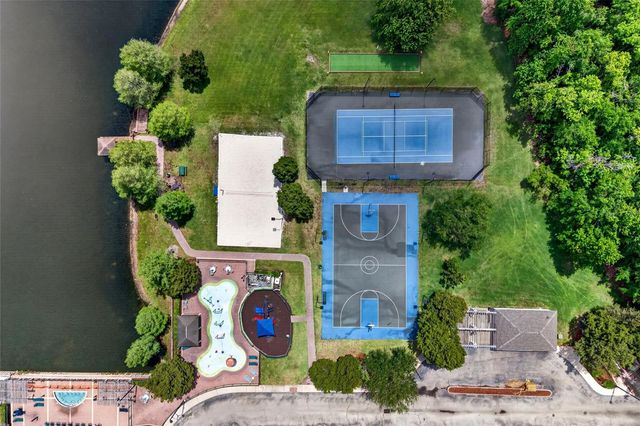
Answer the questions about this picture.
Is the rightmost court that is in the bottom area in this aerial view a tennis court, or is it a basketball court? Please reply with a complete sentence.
I'd say the rightmost court that is in the bottom area is a basketball court.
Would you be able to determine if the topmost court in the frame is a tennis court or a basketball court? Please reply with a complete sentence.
Specifically, the topmost court is a tennis court.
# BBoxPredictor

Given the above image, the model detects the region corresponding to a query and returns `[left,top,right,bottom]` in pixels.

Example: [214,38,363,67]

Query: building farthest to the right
[490,307,557,351]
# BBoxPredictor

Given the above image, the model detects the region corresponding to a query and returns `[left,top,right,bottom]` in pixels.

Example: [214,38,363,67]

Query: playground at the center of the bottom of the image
[240,289,292,358]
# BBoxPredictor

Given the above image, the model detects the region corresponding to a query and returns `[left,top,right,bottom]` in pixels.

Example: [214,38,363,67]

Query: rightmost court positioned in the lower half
[322,192,419,339]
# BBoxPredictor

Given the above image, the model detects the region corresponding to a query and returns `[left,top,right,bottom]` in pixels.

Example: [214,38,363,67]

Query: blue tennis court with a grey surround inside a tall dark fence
[307,92,484,179]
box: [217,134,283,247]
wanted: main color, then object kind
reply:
white sports court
